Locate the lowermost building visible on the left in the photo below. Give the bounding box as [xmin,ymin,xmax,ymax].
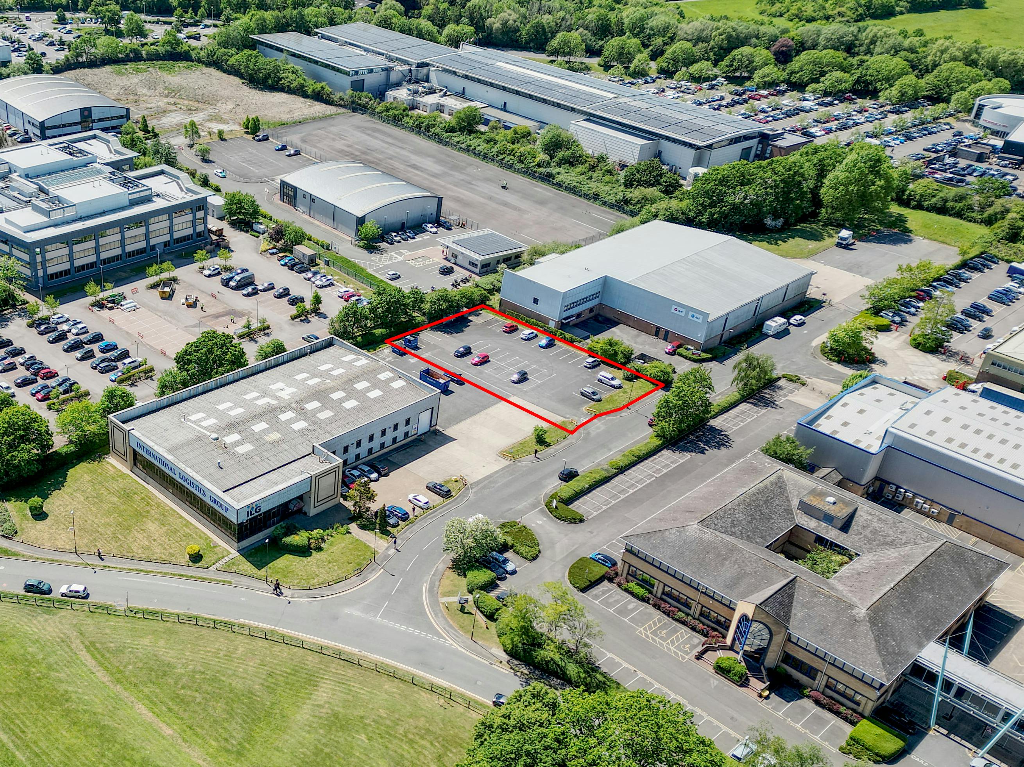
[105,335,440,550]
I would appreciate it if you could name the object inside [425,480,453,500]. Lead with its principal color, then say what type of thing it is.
gray car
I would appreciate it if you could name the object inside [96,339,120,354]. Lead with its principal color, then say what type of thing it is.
blue car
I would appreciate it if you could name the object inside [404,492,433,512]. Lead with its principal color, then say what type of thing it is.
white car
